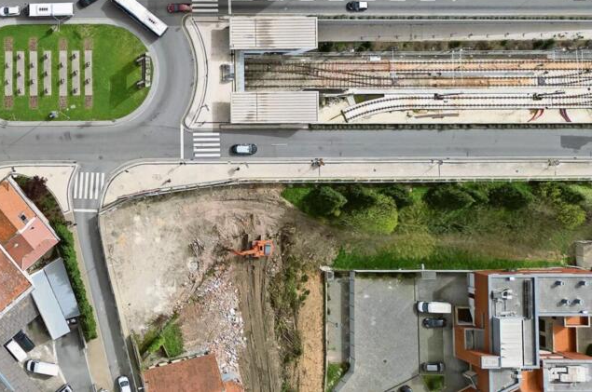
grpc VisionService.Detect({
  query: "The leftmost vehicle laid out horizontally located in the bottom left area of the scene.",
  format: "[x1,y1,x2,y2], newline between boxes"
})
[25,359,59,378]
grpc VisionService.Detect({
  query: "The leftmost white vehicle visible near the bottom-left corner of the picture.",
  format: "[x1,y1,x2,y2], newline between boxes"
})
[4,333,31,366]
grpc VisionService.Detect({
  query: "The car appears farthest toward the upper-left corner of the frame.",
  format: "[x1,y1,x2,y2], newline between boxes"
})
[0,4,20,16]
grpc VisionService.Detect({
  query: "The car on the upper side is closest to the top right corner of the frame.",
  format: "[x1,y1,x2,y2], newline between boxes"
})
[345,0,368,12]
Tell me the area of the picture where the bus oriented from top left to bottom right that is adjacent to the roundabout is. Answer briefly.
top left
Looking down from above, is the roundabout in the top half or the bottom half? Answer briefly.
top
